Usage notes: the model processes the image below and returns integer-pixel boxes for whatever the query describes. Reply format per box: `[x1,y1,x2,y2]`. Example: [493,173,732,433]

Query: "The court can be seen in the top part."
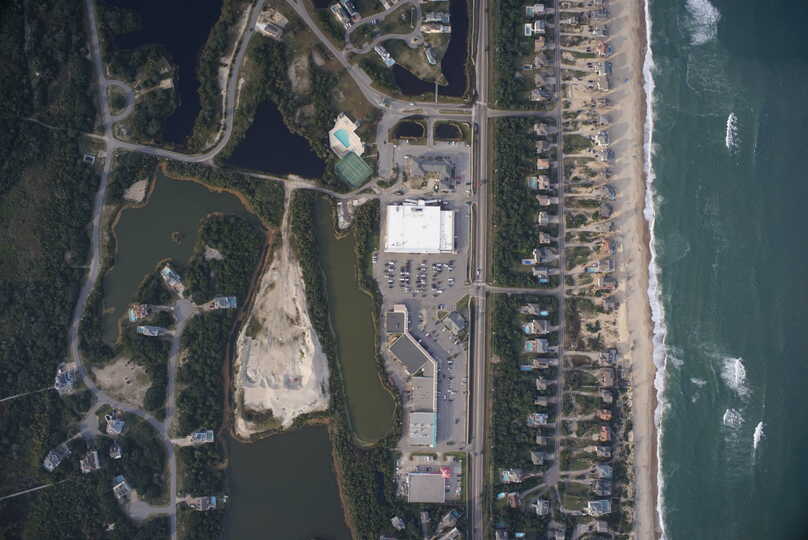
[335,152,372,187]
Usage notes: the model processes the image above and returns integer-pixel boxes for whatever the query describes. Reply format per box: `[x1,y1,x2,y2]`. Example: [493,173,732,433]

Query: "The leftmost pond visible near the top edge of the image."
[107,0,223,146]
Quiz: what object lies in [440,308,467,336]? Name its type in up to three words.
building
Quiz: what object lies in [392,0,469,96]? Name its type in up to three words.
pond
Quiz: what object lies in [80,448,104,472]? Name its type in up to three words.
house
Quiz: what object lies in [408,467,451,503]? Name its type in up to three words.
building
